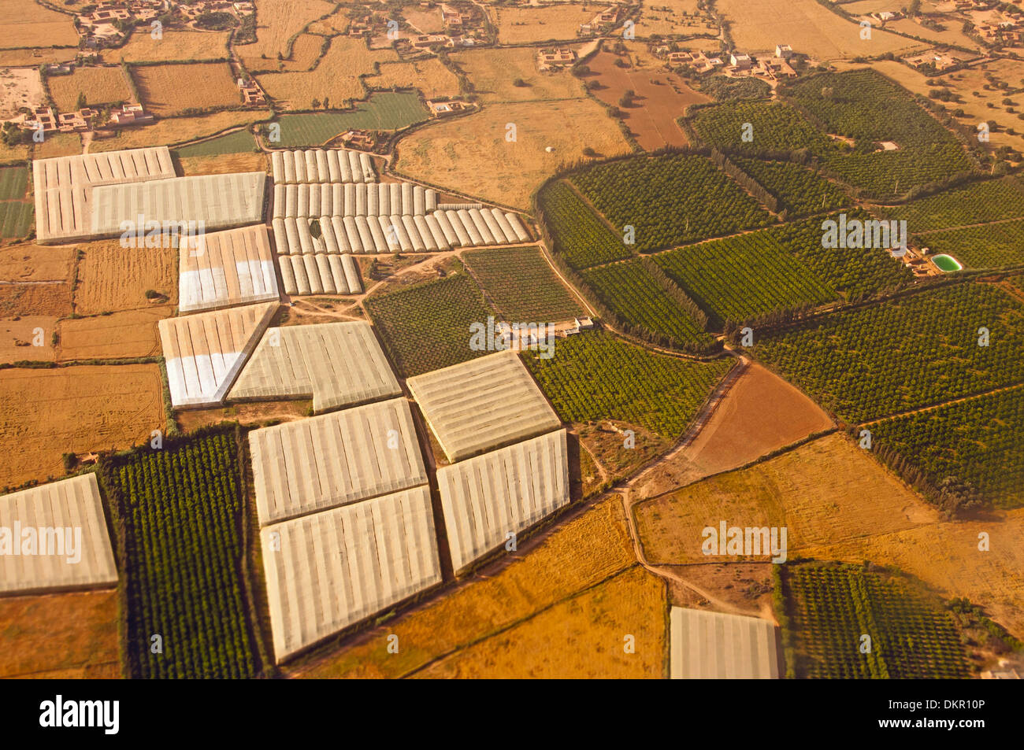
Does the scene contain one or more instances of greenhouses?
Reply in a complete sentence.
Yes, there's a greenhouse down there.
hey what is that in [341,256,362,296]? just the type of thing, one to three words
greenhouse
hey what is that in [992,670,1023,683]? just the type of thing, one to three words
house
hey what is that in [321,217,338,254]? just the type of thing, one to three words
greenhouse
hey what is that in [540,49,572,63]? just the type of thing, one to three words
house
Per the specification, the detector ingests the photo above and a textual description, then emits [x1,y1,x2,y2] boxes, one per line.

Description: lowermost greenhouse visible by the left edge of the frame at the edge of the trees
[0,473,120,601]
